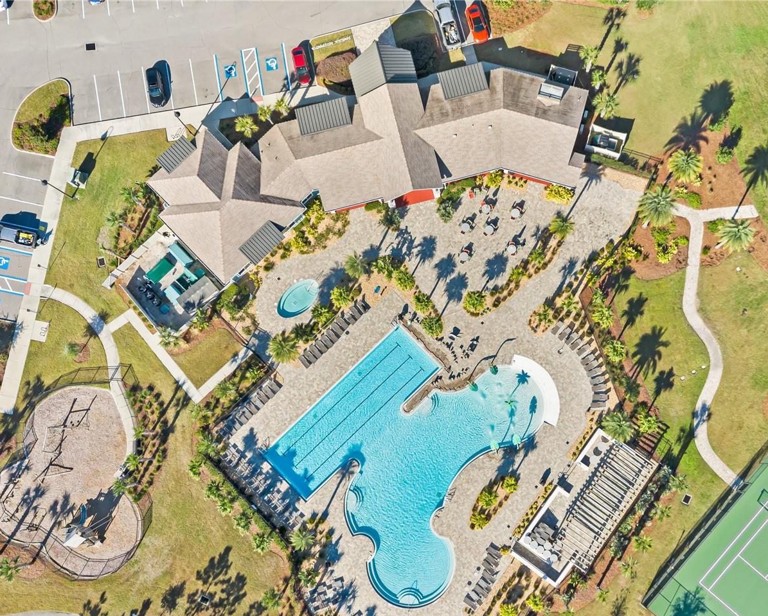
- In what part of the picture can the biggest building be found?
top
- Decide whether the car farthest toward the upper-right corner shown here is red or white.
red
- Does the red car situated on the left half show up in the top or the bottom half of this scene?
top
